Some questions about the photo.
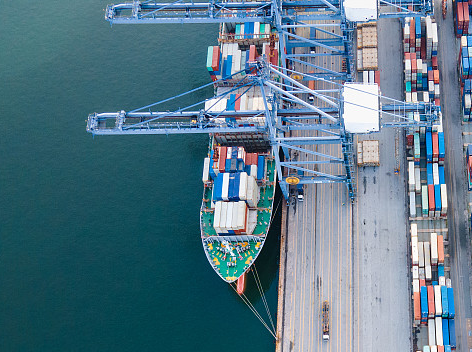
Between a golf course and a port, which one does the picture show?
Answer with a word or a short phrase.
port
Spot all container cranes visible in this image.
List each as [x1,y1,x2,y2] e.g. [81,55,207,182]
[105,0,425,101]
[84,62,431,204]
